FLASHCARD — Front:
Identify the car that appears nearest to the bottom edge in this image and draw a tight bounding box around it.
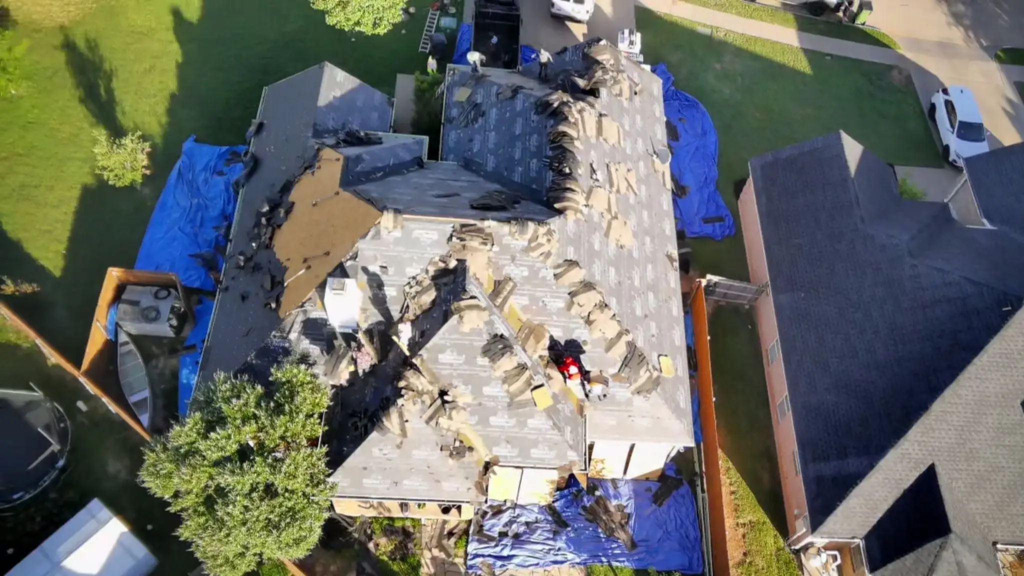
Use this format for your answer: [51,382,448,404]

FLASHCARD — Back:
[924,77,1002,173]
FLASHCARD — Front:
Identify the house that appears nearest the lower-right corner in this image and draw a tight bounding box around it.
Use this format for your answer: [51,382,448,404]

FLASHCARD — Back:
[741,127,1024,576]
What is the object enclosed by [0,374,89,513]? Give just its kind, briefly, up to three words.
trampoline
